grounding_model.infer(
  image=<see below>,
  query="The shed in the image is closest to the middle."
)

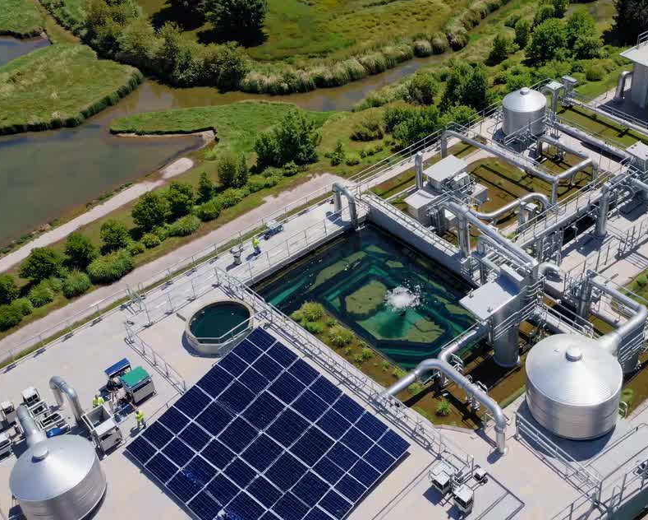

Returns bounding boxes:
[404,190,436,224]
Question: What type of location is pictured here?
industrial area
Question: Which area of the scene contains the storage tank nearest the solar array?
bottom left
